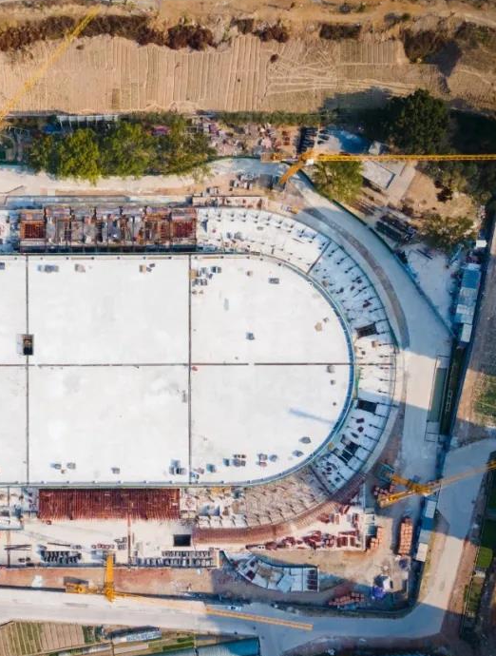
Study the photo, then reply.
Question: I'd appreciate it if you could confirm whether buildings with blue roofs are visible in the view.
Yes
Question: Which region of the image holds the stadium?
center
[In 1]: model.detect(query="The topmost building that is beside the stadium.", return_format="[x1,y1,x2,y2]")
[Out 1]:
[236,554,318,592]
